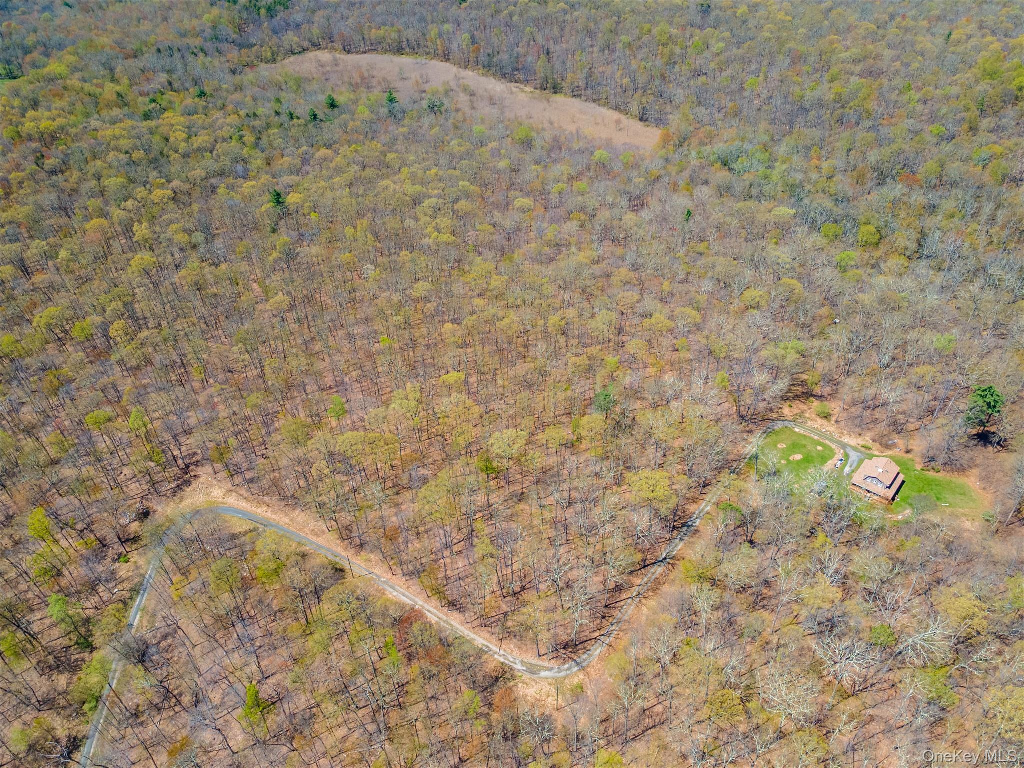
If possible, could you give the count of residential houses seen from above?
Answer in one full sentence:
In total, 1 residential house can be seen.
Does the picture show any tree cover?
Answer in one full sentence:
Yes, some tree cover is visible.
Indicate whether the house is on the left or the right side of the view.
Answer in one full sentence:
It is on the right.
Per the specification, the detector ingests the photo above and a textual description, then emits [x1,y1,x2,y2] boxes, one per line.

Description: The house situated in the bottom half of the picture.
[848,456,904,509]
